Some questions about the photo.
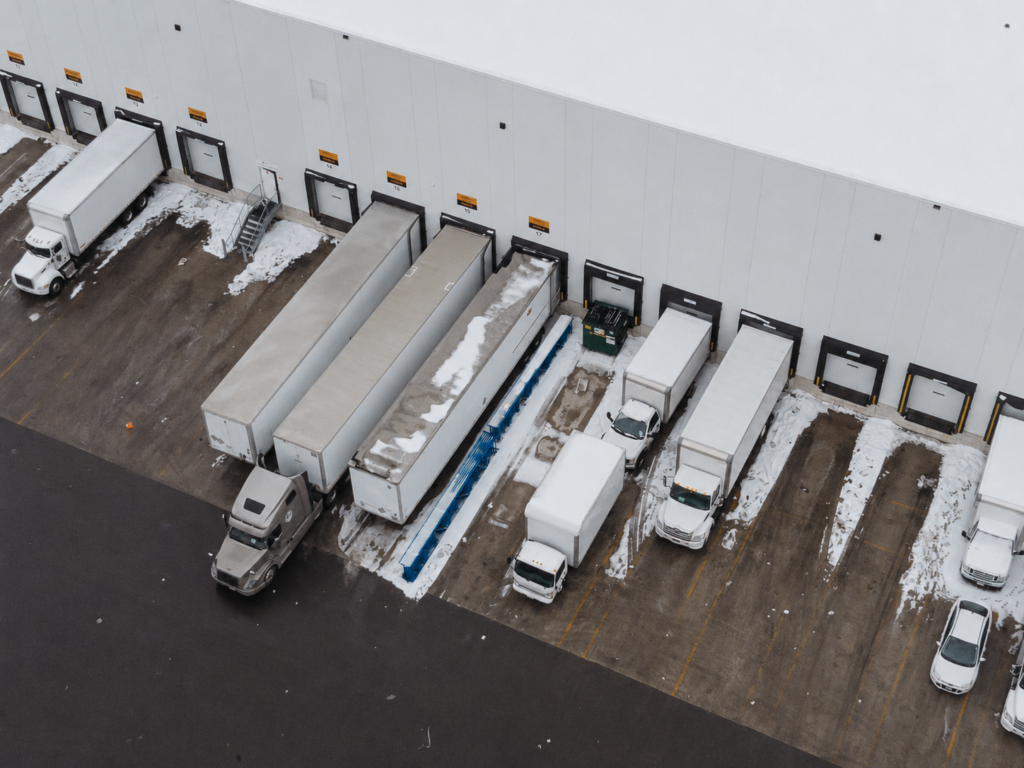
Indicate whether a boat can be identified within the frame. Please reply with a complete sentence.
No, there appears to be no boat in this shot.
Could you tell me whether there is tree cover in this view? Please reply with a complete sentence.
No, the picture contains no tree cover.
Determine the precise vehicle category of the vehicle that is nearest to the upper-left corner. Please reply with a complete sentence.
From above, the vehicle that is nearest to the upper-left corner can be identified as a truck.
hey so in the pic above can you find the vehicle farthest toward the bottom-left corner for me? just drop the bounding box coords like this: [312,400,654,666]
[215,452,351,598]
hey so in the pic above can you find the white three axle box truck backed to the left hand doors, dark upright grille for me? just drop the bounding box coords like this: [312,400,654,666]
[8,118,162,298]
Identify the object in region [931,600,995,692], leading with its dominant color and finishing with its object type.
white car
